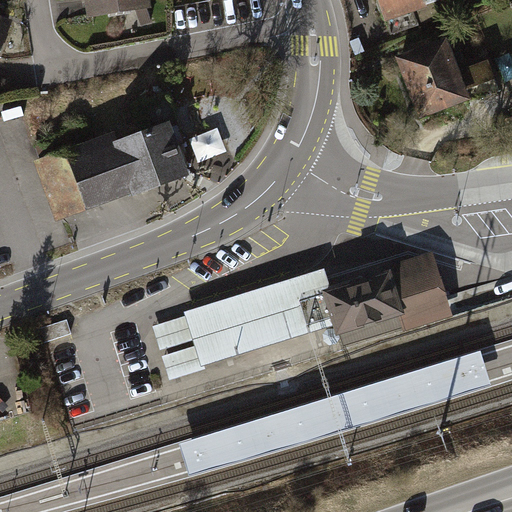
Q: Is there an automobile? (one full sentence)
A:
Yes, the photo shows an automobile.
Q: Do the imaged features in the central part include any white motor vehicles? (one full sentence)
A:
Yes, a white motor vehicle can be seen in the central part.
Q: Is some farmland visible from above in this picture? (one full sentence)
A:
No, no farmland is visible.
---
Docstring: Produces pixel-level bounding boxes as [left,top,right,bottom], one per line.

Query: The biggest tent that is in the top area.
[192,128,226,162]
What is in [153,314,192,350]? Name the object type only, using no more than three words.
shed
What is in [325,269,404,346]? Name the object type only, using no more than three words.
building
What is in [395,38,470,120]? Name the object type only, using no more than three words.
house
